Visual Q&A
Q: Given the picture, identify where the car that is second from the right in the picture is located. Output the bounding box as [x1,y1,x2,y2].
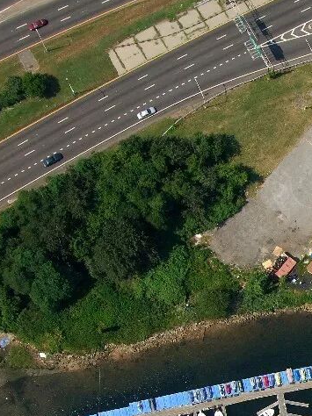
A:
[42,151,63,167]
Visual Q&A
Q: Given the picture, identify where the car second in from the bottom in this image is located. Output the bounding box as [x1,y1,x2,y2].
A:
[136,106,156,121]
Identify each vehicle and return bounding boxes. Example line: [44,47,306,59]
[27,16,48,32]
[136,106,156,121]
[42,151,63,167]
